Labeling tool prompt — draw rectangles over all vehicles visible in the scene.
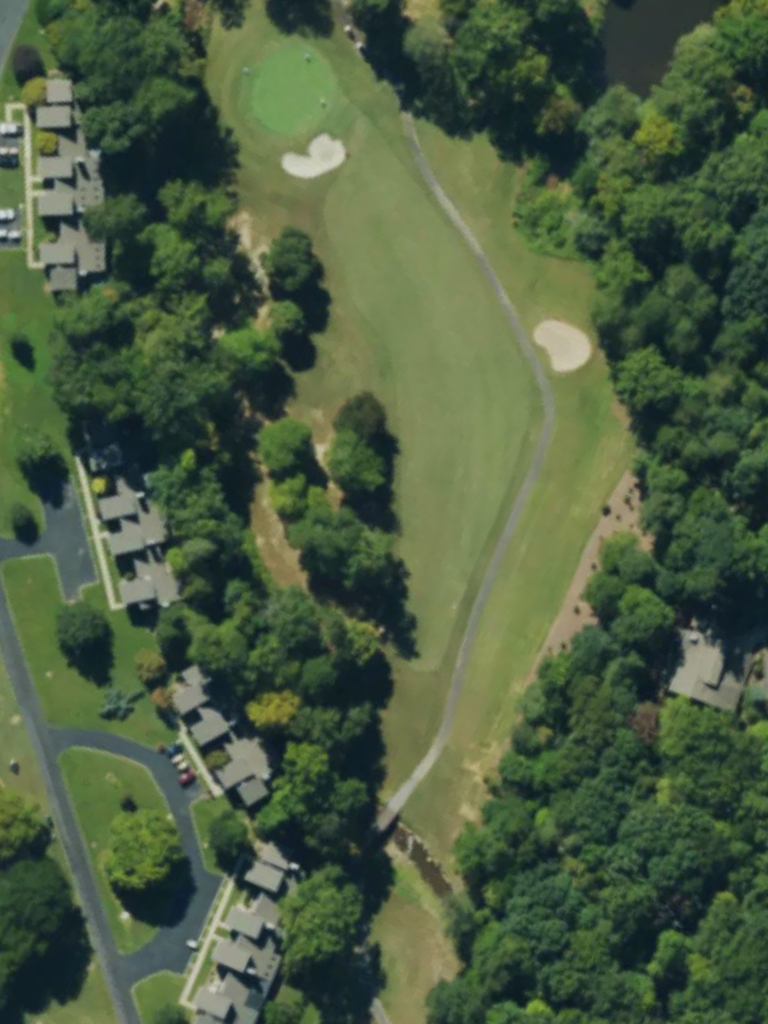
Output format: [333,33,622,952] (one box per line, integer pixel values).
[184,939,200,949]
[0,155,18,162]
[2,229,20,238]
[344,24,351,33]
[0,146,18,154]
[179,769,196,783]
[175,759,191,772]
[169,751,186,765]
[166,743,182,756]
[0,125,17,132]
[355,41,363,50]
[0,210,15,218]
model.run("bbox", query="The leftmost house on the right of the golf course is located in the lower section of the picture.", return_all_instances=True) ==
[669,634,758,712]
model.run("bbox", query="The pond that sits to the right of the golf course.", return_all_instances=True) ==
[597,0,713,100]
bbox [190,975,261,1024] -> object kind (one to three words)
house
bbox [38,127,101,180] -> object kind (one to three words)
house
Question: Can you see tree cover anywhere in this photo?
Yes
